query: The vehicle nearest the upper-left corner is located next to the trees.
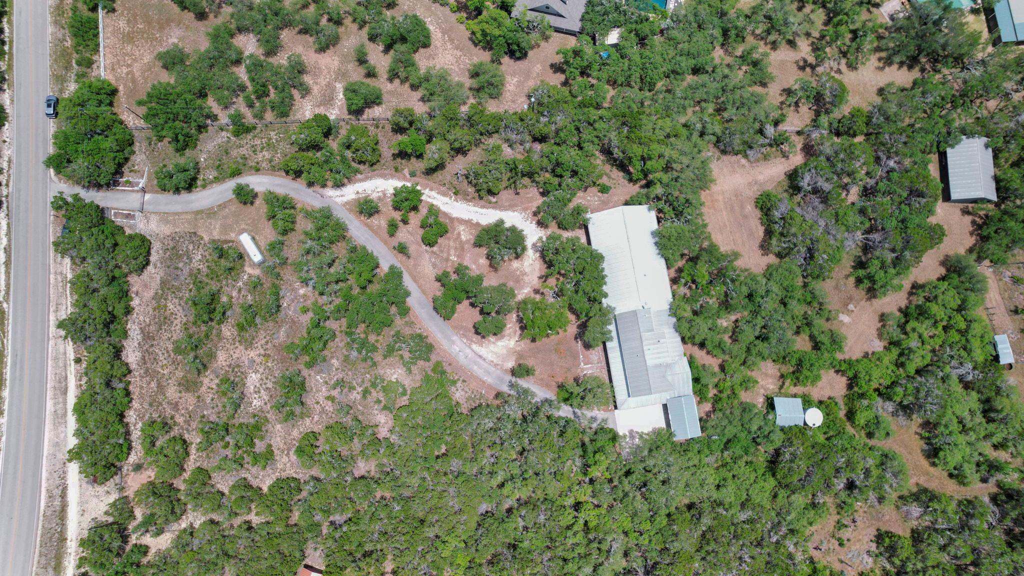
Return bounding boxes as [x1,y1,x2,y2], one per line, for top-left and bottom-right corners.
[44,96,59,118]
